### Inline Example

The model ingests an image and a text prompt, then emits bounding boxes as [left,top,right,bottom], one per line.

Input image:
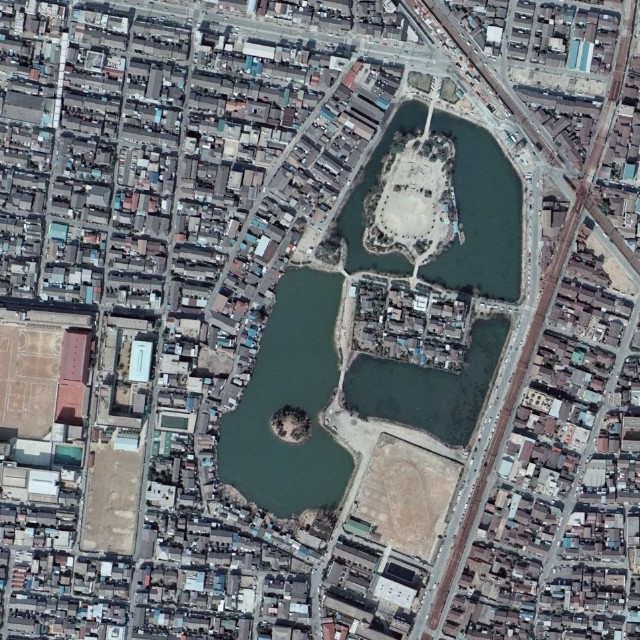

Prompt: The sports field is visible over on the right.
[351,433,463,562]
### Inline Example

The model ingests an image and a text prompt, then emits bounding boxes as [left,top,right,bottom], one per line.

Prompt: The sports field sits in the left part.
[81,438,143,553]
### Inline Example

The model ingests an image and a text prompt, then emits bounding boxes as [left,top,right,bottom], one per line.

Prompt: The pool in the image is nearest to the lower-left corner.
[52,442,84,468]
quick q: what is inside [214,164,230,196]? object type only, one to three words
house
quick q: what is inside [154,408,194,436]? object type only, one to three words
swimming pool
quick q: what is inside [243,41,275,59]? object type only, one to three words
shed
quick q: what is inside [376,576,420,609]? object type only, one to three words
building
